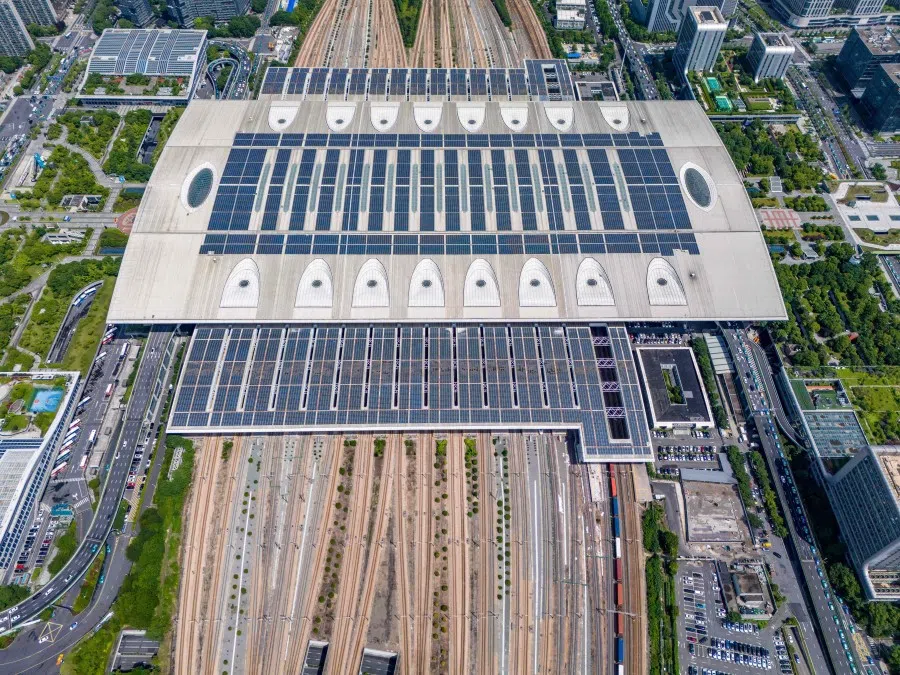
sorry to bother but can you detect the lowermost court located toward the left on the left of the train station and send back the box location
[25,387,66,412]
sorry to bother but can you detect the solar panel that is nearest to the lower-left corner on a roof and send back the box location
[0,439,38,461]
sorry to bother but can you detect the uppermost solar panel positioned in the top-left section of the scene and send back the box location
[90,27,202,72]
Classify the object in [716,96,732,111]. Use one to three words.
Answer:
swimming pool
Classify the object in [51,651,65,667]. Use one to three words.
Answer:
vehicle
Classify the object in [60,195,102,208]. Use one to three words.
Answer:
building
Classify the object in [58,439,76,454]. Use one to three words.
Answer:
vehicle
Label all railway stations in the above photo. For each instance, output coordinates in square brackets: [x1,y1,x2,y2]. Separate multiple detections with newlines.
[105,59,788,468]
